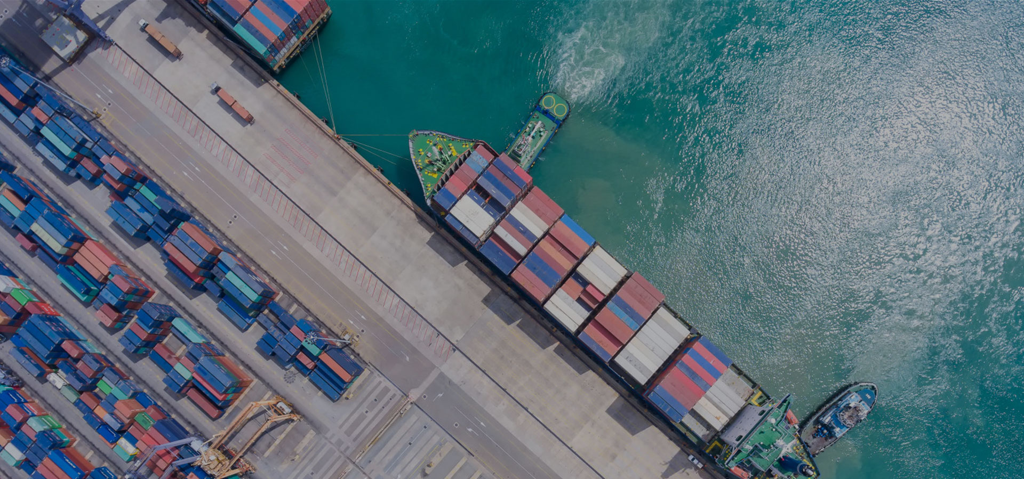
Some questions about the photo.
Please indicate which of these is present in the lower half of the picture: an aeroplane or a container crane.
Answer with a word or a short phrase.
container crane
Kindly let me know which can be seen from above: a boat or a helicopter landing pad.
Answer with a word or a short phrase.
boat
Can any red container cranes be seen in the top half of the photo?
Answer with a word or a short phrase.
No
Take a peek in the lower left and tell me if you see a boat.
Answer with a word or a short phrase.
No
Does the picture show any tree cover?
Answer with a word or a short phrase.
No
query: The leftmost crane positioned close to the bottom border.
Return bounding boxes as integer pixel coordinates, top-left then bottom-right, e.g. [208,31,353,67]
[122,435,207,479]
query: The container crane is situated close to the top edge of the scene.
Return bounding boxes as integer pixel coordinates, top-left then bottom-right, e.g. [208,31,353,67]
[57,0,118,45]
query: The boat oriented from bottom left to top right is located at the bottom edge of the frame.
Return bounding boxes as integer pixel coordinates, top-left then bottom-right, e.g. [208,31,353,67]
[796,382,876,458]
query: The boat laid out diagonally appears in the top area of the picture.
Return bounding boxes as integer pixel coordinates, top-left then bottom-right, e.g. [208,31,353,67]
[504,92,570,172]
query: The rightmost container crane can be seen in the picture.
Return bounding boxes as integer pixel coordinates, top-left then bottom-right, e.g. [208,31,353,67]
[192,395,300,479]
